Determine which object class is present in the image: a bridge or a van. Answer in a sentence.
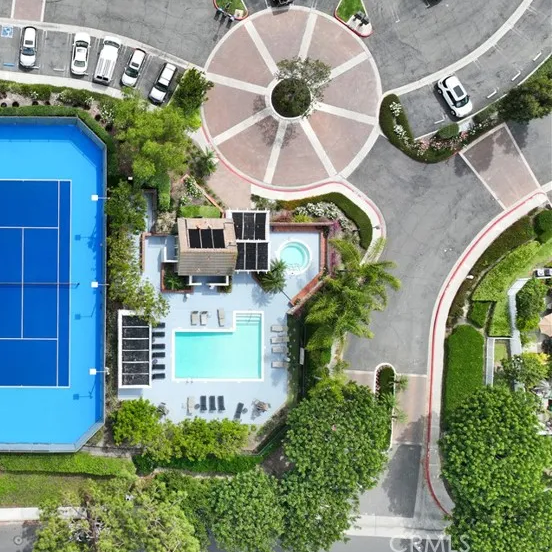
This aerial view contains a van.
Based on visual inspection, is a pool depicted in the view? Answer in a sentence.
Yes, the picture does show a pool.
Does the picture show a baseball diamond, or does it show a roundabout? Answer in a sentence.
I can see a roundabout in this picture.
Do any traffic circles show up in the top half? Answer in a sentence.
Yes, the scene does show a traffic circle in the top half.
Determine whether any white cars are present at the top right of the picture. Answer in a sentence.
Yes, the scene does show a white car at the top right of the picture.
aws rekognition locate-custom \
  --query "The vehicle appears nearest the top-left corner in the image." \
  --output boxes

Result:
[18,26,37,68]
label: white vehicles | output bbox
[121,46,146,88]
[71,32,91,76]
[18,26,37,68]
[437,74,470,118]
[149,61,177,106]
[93,37,121,88]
